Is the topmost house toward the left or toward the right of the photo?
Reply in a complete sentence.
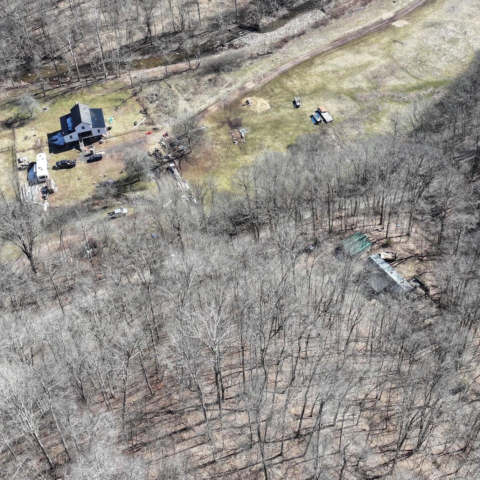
The topmost house appears in the left half of the scene.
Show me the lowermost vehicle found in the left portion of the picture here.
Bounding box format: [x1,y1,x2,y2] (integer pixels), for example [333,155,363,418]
[105,209,130,222]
